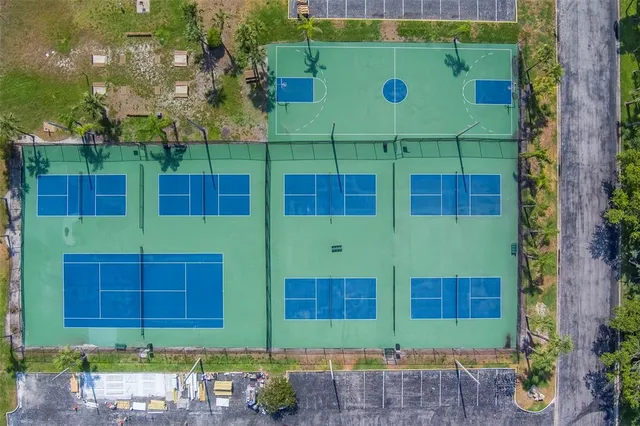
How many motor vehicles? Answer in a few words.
none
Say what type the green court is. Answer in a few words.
basketball court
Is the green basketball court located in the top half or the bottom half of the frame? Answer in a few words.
top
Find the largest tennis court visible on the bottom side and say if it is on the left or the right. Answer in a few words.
left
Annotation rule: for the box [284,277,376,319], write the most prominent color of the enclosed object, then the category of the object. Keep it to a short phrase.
blue sports court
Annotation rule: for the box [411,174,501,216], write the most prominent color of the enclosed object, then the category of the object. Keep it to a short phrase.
blue sports court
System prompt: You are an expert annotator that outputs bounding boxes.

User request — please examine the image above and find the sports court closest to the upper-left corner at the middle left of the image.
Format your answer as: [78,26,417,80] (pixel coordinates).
[37,174,126,216]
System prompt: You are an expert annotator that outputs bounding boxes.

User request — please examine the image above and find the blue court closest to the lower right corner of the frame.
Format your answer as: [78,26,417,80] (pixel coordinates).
[411,277,501,319]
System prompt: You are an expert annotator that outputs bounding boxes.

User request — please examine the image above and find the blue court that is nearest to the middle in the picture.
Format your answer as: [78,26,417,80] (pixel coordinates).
[284,174,376,216]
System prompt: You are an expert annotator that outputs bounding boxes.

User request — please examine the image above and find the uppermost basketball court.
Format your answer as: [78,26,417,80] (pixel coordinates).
[268,43,518,141]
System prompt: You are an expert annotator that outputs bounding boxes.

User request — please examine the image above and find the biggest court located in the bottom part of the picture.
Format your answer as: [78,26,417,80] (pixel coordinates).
[64,254,224,329]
